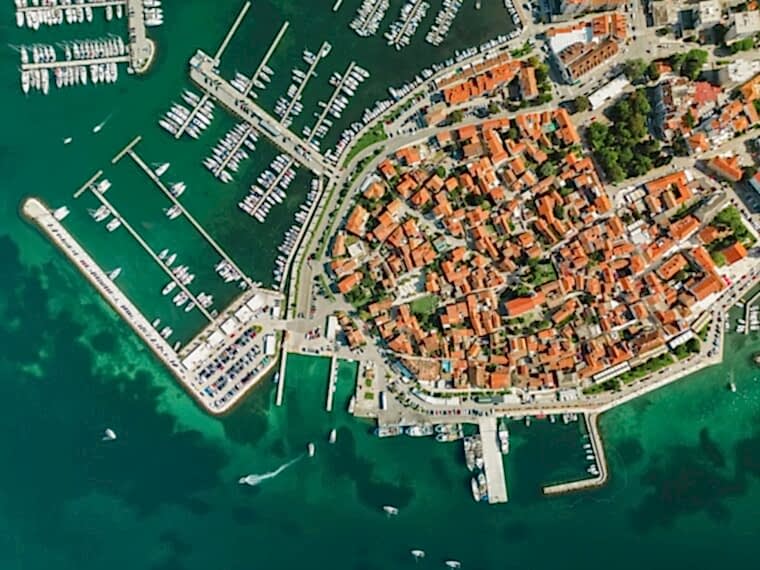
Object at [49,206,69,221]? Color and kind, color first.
white boat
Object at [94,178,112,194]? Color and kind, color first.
white boat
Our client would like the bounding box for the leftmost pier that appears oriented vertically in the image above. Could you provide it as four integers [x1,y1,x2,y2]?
[128,0,157,74]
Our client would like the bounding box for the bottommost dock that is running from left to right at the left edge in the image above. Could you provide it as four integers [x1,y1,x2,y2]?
[23,56,128,71]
